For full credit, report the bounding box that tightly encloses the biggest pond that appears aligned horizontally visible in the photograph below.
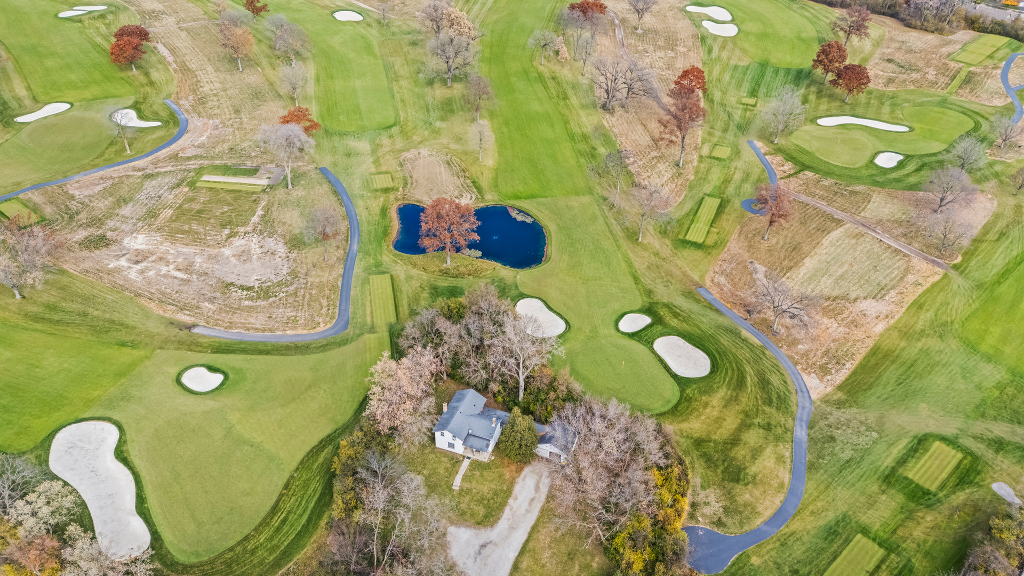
[392,203,547,270]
